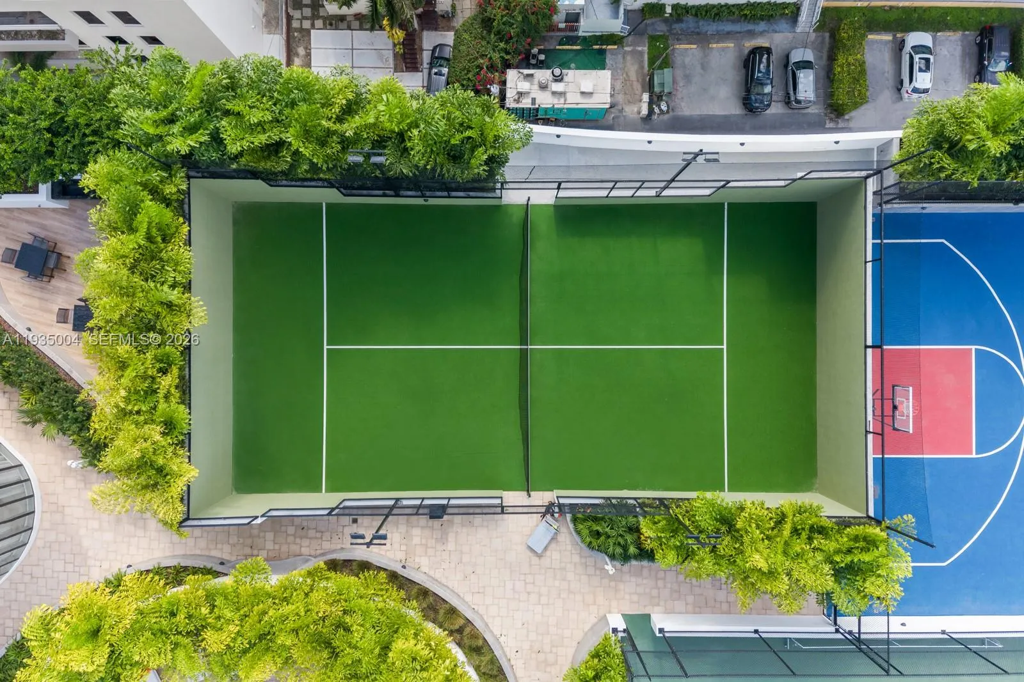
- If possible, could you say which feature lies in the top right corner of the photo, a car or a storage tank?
car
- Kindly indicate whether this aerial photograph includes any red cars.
No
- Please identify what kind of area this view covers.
sports ground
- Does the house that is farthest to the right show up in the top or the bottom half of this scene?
top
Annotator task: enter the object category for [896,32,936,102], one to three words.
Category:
car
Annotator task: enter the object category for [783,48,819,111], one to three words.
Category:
car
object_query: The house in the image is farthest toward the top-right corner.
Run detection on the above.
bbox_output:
[577,0,632,34]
